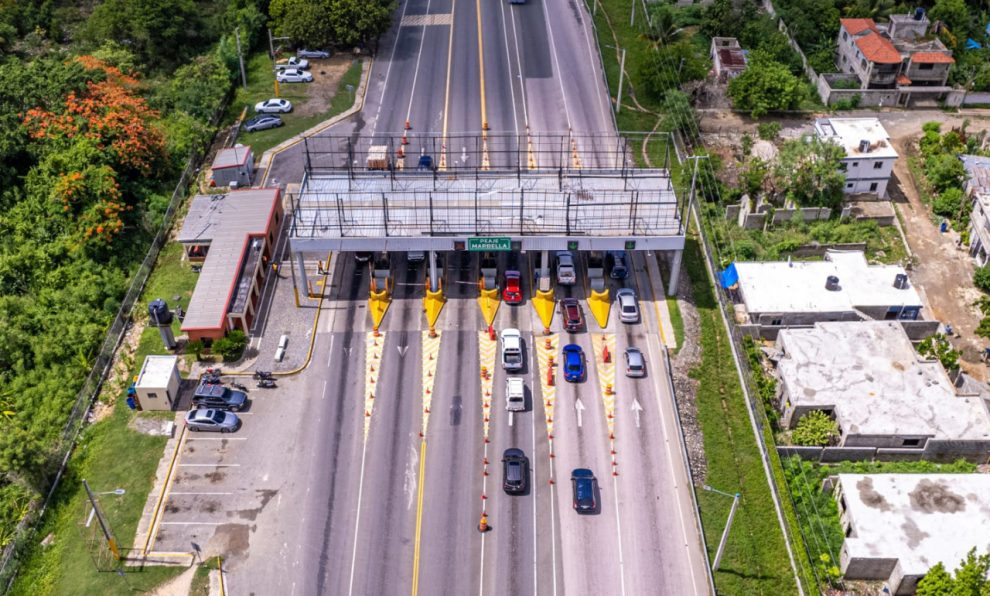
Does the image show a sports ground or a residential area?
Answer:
residential area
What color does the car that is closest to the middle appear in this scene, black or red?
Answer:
red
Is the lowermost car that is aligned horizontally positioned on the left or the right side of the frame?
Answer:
left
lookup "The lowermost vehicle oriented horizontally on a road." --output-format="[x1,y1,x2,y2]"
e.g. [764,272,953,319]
[183,411,241,436]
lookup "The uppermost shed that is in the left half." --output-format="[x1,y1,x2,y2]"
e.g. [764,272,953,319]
[212,146,251,192]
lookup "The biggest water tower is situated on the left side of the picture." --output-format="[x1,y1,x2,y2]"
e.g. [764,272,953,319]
[146,295,177,350]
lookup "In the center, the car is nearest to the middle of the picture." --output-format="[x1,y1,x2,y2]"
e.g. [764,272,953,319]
[503,277,523,305]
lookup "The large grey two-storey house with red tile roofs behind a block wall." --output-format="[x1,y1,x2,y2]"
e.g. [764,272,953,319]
[835,15,960,111]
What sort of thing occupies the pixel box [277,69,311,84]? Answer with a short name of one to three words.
car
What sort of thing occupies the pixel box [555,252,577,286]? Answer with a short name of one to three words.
vehicle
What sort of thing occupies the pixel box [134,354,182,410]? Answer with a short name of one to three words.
shed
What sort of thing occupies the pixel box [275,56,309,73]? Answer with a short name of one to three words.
vehicle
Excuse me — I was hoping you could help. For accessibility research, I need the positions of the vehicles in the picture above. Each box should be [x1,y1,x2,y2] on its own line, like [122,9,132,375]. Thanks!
[297,46,329,60]
[405,250,423,263]
[194,372,217,383]
[555,252,577,286]
[183,411,241,436]
[562,348,585,383]
[499,332,523,372]
[616,291,640,323]
[229,381,247,392]
[255,99,291,113]
[569,469,598,517]
[624,349,648,380]
[275,56,309,73]
[190,386,248,413]
[501,451,527,496]
[277,69,311,84]
[202,366,223,376]
[503,277,523,305]
[253,369,275,378]
[560,300,583,333]
[606,251,628,280]
[503,377,526,414]
[255,377,277,387]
